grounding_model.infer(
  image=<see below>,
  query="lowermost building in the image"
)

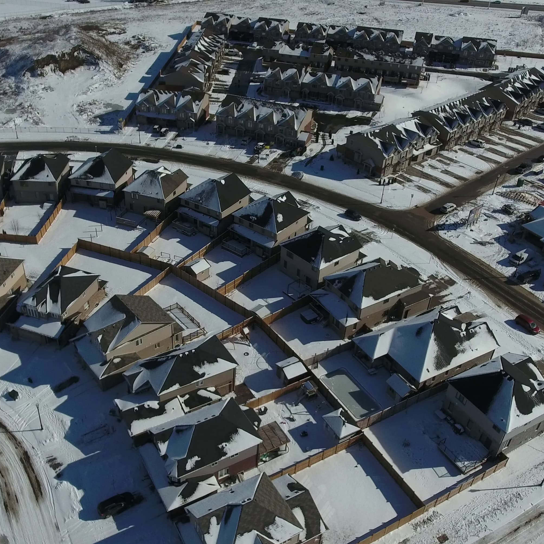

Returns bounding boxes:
[185,462,329,544]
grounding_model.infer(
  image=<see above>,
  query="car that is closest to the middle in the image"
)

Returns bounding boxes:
[344,209,362,221]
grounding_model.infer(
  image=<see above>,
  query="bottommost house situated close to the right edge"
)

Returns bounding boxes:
[442,350,544,457]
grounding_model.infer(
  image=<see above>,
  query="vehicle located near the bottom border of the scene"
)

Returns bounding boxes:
[96,492,135,518]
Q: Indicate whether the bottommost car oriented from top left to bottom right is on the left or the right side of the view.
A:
right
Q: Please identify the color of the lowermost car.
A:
black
